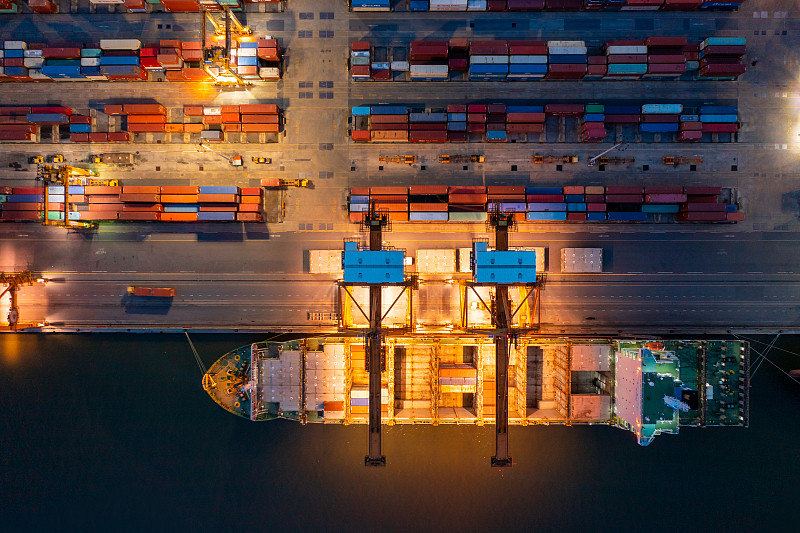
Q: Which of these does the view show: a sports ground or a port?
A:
port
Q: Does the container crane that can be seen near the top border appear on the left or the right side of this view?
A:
left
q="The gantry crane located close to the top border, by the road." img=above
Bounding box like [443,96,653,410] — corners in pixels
[195,3,252,84]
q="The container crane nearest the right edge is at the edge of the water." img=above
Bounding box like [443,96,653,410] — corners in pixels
[445,198,552,468]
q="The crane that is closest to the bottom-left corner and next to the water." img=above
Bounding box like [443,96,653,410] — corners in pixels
[0,274,44,330]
